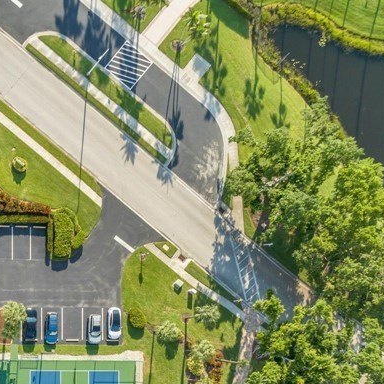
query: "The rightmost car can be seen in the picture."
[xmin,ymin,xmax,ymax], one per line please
[105,307,122,339]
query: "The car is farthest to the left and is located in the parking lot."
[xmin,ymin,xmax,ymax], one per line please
[23,308,40,341]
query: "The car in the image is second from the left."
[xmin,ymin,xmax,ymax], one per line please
[44,312,60,345]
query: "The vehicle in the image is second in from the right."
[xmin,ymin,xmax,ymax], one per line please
[86,314,103,345]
